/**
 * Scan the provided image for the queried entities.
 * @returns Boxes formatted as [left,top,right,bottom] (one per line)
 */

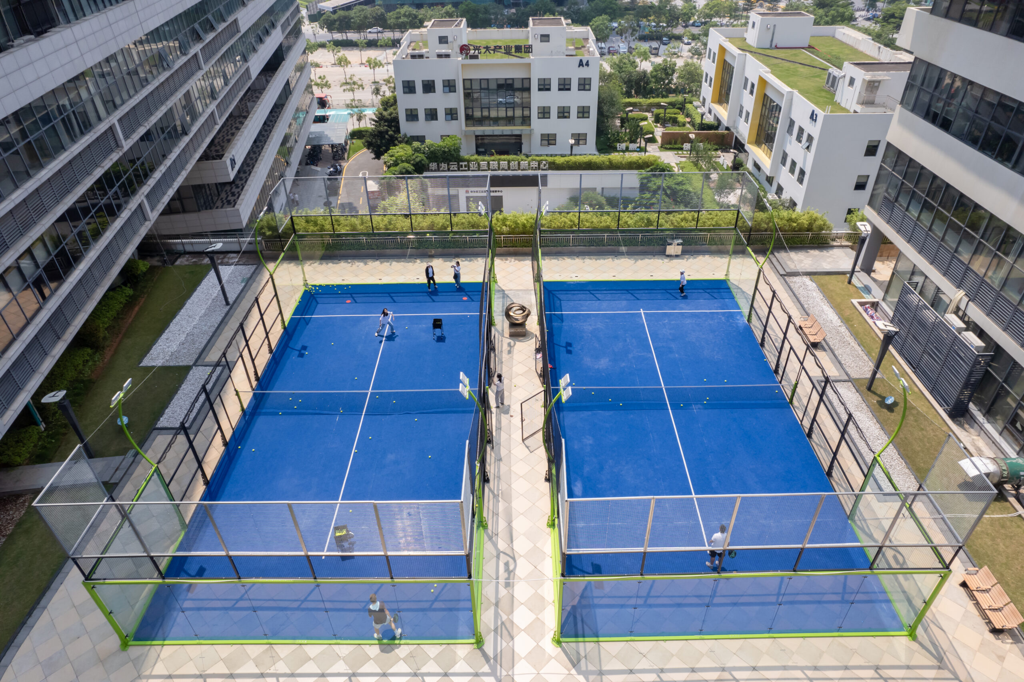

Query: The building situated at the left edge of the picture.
[0,0,323,466]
